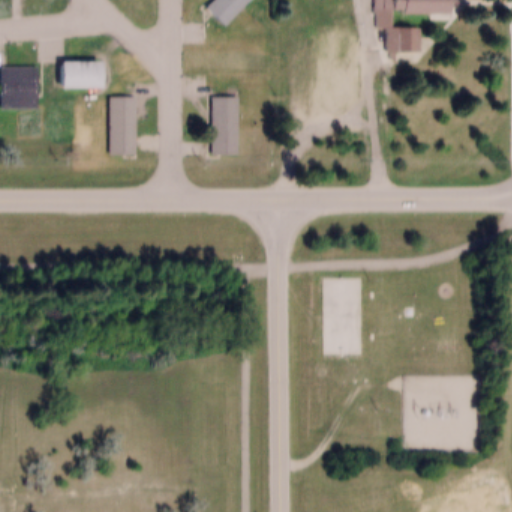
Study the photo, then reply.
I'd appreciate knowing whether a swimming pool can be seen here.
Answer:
No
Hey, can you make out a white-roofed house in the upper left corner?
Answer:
Yes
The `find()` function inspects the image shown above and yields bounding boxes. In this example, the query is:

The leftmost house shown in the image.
[0,65,41,109]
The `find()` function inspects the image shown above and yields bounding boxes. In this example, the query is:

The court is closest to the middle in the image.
[322,278,362,356]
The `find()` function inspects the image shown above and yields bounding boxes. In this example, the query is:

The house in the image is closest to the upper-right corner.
[374,0,457,54]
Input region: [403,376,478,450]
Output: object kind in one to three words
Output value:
playground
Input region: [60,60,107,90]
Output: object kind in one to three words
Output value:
house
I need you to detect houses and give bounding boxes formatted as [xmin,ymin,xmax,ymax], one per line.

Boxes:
[0,65,41,109]
[374,0,457,54]
[60,60,107,90]
[210,96,239,155]
[209,0,250,26]
[109,96,136,156]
